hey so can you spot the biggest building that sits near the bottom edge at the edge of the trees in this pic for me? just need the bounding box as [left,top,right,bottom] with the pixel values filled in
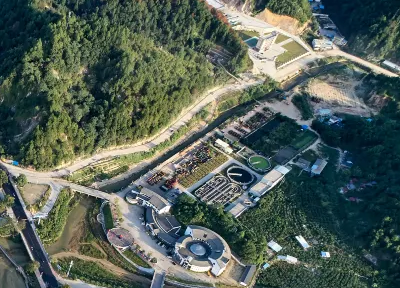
[173,226,233,274]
